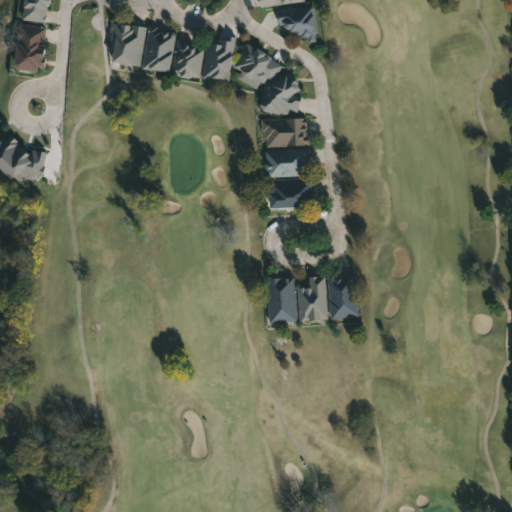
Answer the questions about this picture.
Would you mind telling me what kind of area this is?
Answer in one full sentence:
The area seen from above is a golf course.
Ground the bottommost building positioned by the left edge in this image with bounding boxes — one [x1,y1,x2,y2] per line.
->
[0,136,49,180]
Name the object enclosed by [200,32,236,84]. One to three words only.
house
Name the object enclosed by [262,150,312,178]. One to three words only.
house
